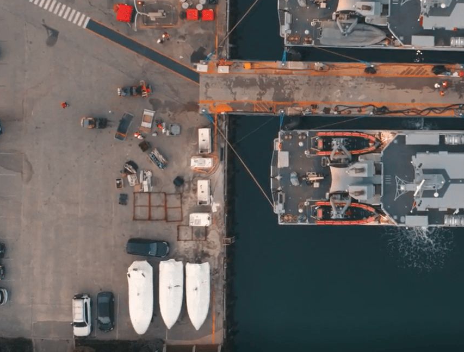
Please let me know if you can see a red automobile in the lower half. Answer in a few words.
No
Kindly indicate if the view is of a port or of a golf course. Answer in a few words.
port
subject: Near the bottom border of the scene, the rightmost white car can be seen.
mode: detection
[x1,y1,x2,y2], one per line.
[70,292,93,336]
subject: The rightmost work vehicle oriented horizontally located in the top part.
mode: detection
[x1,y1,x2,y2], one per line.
[118,81,155,96]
